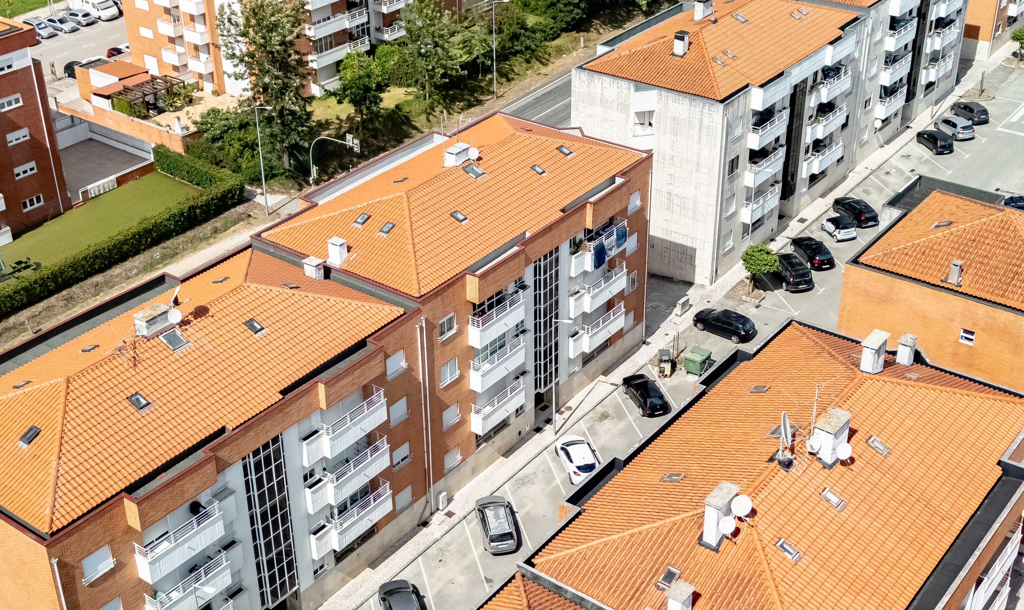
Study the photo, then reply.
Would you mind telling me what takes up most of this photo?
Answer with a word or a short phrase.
buildings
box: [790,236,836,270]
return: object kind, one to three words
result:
car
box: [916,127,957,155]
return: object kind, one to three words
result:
car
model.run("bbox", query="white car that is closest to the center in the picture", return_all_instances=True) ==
[555,435,604,488]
